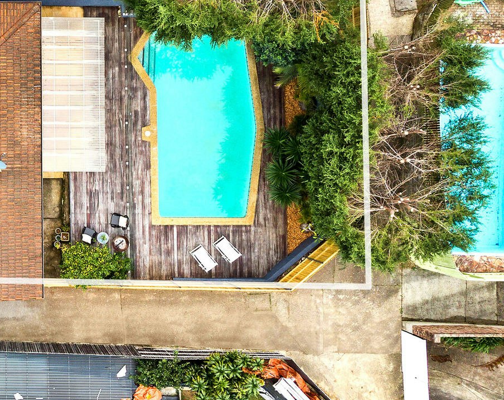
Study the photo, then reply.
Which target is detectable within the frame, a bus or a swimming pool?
swimming pool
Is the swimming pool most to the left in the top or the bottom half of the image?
top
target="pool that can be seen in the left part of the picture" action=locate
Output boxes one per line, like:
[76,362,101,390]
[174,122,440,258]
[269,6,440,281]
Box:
[132,27,265,225]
